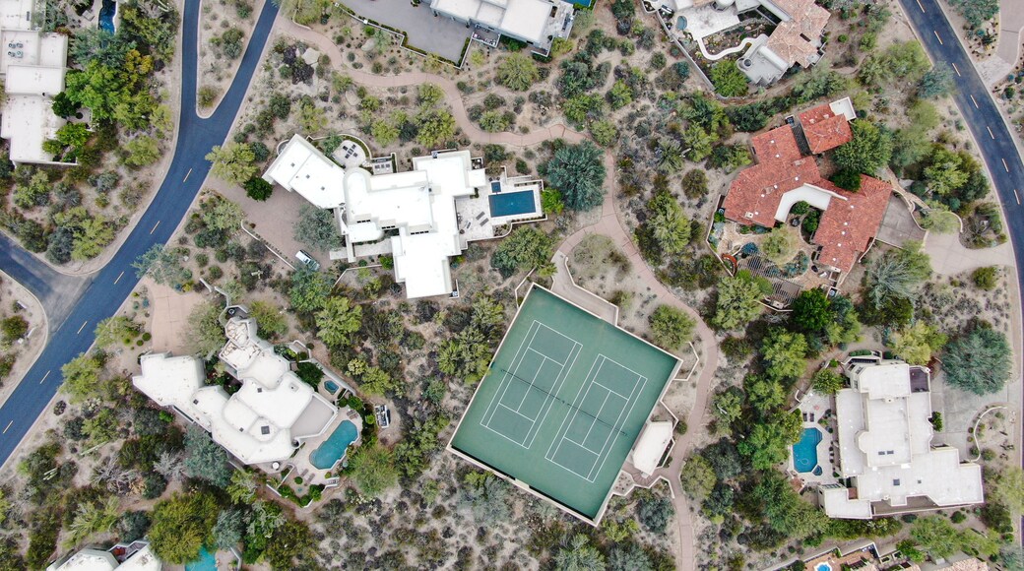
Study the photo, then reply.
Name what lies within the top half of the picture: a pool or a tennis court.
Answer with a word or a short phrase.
pool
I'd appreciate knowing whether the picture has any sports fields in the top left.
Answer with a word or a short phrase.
No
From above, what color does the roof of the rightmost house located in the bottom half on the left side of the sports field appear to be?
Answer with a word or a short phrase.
white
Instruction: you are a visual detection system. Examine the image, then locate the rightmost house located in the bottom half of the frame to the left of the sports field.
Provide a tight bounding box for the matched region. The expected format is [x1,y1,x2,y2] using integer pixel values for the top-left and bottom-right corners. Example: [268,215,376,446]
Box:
[134,314,343,464]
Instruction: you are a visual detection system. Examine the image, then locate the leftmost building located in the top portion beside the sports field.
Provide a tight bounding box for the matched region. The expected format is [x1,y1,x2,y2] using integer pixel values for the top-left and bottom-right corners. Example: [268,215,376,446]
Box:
[263,134,487,298]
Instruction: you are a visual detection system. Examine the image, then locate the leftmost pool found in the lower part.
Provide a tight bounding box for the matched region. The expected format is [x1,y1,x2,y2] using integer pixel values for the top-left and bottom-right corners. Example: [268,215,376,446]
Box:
[184,538,221,571]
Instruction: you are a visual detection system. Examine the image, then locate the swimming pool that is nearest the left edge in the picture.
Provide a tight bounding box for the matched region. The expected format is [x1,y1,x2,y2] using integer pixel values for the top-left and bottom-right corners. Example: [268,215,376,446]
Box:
[97,0,119,44]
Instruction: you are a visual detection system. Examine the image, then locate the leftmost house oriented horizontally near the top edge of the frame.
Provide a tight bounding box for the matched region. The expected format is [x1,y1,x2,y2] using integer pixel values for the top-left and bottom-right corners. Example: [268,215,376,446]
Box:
[431,0,552,52]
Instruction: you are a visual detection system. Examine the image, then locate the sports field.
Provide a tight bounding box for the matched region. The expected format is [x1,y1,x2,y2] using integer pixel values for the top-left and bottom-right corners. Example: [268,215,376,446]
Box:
[451,285,677,518]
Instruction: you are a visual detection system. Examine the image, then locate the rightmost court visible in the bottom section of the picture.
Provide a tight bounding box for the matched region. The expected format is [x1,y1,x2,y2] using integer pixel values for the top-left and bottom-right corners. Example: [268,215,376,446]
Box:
[545,354,647,482]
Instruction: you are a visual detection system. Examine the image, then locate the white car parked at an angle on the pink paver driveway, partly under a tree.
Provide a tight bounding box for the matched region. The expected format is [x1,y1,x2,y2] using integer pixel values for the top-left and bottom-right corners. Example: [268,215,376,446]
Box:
[296,250,321,269]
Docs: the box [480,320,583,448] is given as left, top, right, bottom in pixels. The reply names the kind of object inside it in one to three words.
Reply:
tennis court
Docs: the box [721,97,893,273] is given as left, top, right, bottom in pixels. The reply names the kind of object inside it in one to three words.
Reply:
house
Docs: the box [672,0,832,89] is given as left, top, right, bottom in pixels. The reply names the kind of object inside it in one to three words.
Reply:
house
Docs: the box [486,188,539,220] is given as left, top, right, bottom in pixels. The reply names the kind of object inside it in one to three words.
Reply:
swimming pool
